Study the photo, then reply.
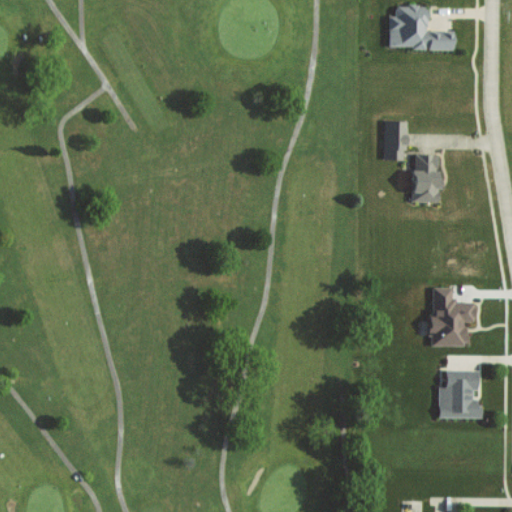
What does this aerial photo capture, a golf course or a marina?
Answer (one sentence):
The picture captures a golf course.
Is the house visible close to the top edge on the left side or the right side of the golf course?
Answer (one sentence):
You can see the house visible close to the top edge positioned to the right of the golf course.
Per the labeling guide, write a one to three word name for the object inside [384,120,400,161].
building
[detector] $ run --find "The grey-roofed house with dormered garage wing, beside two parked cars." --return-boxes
[390,3,458,52]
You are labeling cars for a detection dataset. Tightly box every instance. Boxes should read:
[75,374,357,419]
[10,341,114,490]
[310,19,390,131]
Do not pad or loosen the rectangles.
[462,284,467,296]
[438,8,450,14]
[452,8,464,14]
